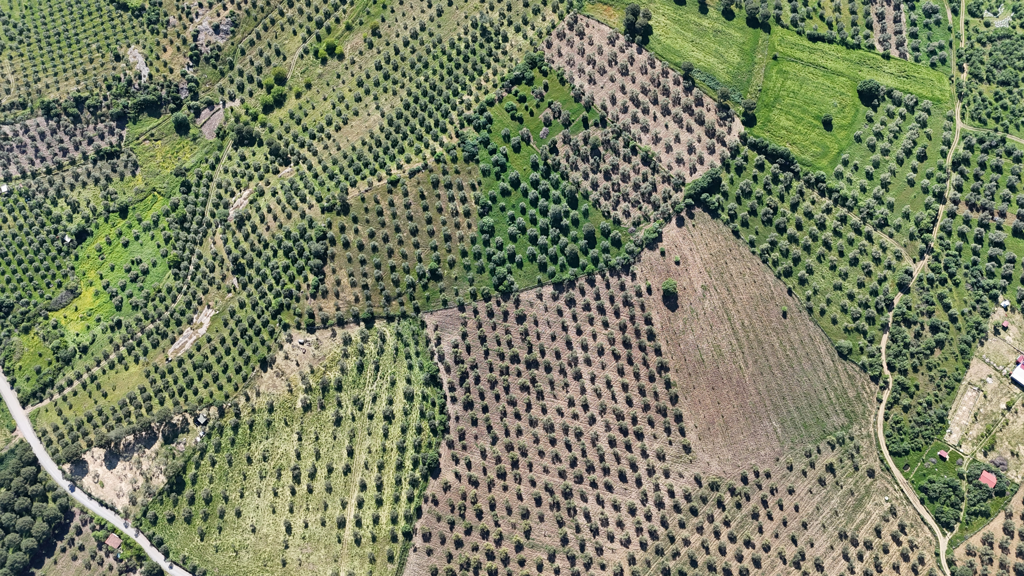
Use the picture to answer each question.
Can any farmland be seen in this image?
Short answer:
Yes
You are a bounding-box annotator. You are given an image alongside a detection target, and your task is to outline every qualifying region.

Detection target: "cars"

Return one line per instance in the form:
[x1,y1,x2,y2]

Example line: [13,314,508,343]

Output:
[198,429,206,437]
[164,357,173,364]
